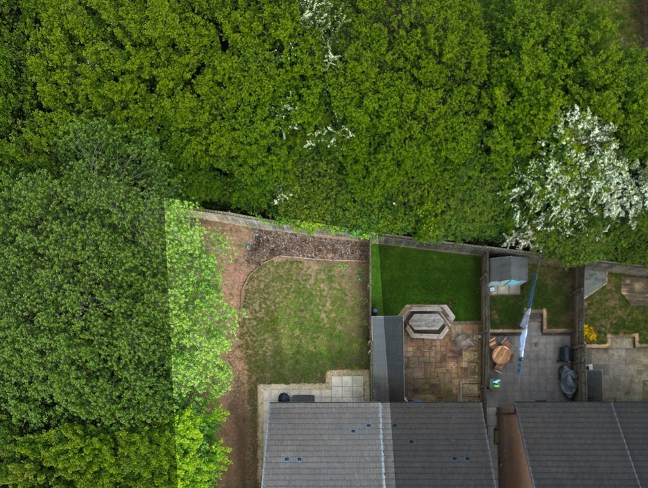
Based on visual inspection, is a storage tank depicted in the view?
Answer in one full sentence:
No, there isn't any storage tank down there.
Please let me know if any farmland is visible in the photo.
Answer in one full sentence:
No, there's no farmland in this view.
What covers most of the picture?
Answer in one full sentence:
The scene is dominated by trees.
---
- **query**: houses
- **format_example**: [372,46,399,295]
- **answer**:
[262,399,497,488]
[497,398,648,488]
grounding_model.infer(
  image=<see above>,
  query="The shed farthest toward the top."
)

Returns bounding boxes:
[488,256,528,286]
